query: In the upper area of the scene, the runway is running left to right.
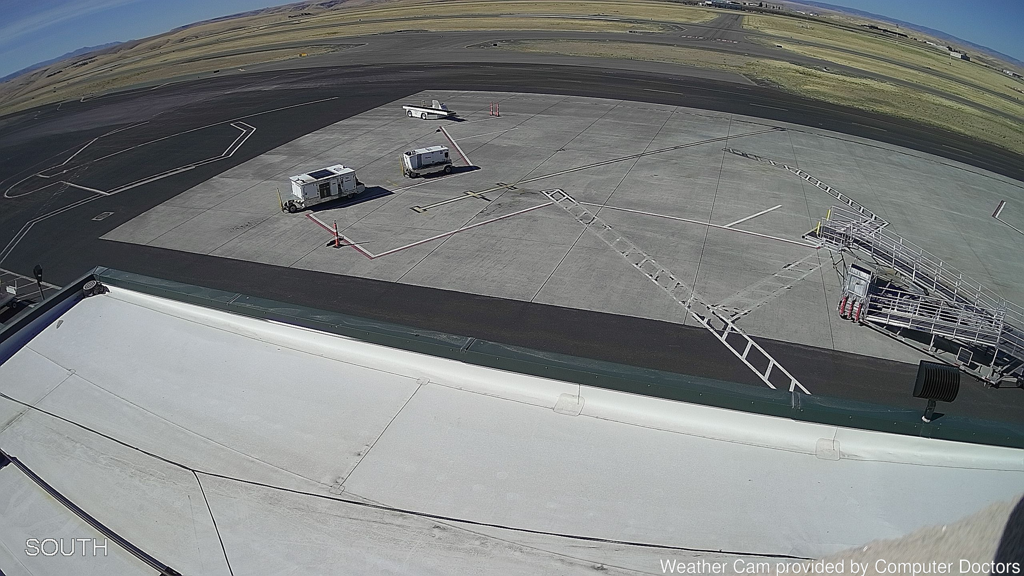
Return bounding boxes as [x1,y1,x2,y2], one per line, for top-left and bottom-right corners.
[3,14,1024,105]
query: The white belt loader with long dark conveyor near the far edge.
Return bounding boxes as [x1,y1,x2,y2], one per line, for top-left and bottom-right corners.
[402,99,457,120]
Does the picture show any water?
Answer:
No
